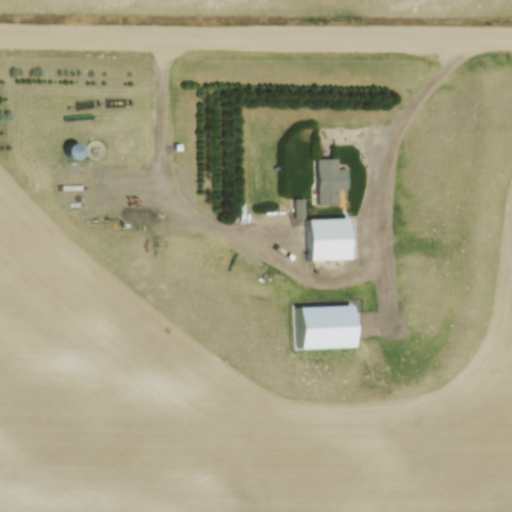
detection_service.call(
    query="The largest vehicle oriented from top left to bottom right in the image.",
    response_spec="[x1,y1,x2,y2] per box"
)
[273,244,290,256]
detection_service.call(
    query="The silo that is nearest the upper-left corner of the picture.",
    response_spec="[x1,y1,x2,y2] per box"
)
[64,142,88,162]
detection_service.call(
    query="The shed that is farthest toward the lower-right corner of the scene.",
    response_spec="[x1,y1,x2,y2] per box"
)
[296,304,361,350]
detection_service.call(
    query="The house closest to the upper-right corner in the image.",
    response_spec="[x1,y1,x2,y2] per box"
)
[316,158,352,210]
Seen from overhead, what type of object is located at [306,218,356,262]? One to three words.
shed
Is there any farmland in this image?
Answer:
Yes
